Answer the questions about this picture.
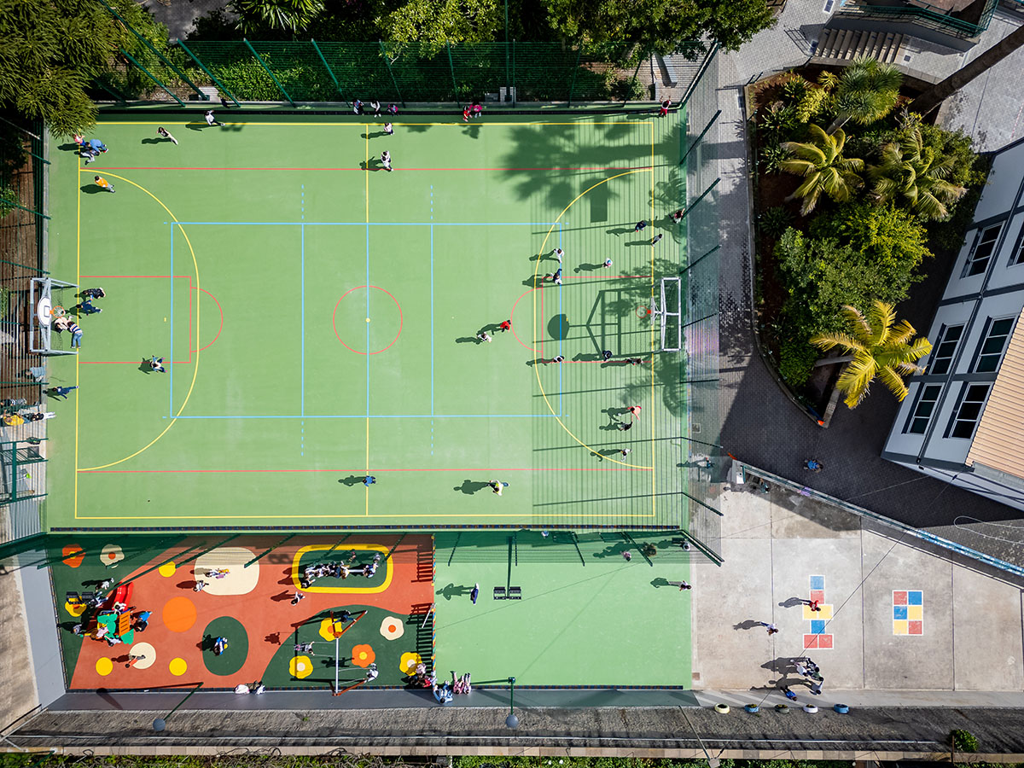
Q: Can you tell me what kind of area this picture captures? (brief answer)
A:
sports ground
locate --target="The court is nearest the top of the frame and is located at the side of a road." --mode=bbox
[44,103,688,535]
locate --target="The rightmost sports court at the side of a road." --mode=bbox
[434,535,692,688]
